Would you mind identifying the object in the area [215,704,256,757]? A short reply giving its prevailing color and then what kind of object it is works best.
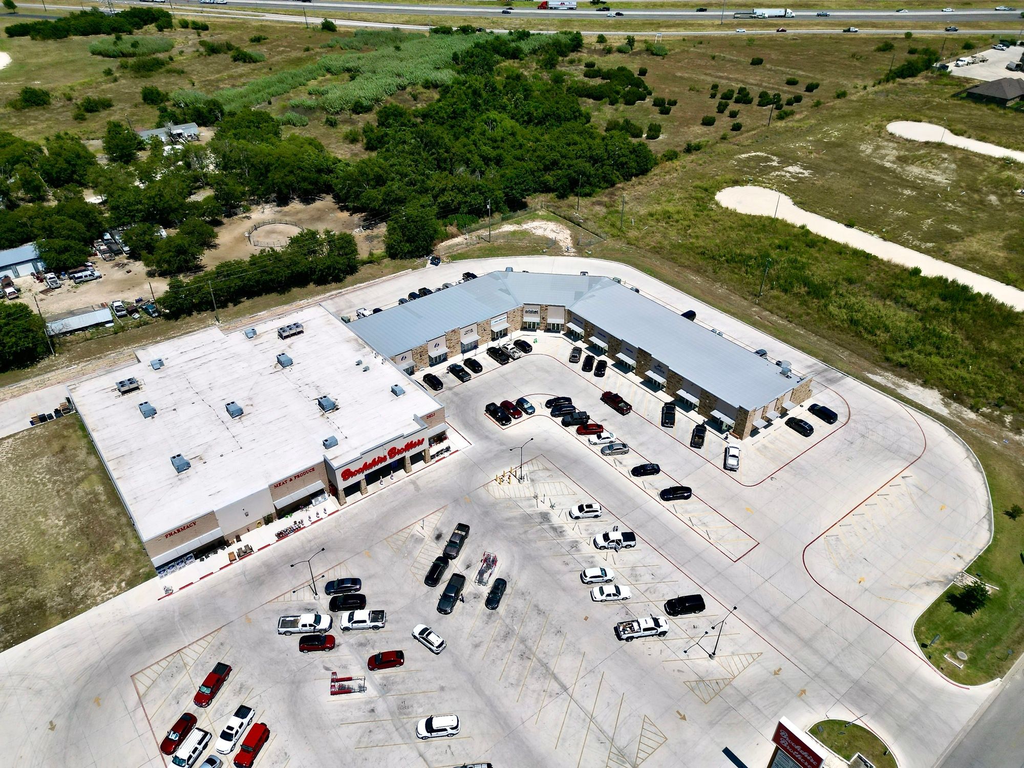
white truck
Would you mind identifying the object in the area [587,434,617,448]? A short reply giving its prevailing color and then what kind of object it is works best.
white car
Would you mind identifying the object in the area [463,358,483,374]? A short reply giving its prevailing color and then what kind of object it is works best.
black car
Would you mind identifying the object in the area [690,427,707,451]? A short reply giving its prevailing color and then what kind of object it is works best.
black vehicle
